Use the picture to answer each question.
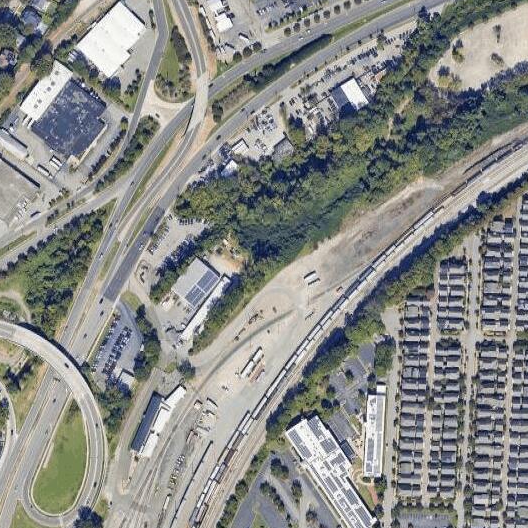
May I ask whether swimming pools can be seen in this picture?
No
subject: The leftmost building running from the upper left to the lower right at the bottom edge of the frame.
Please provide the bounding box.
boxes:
[285,415,377,528]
